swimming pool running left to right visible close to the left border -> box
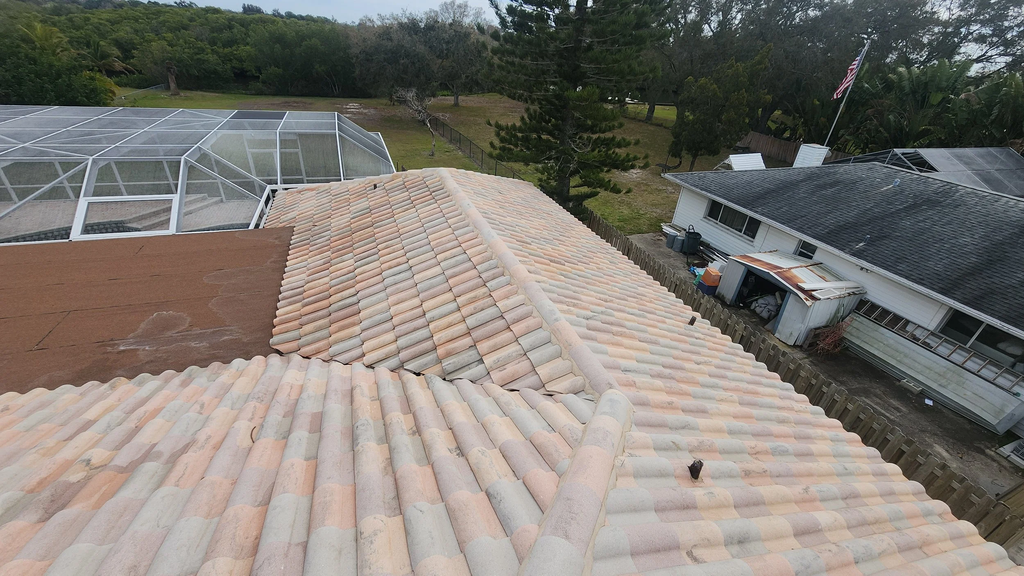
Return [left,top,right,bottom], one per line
[0,202,239,242]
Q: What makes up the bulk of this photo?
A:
buildings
